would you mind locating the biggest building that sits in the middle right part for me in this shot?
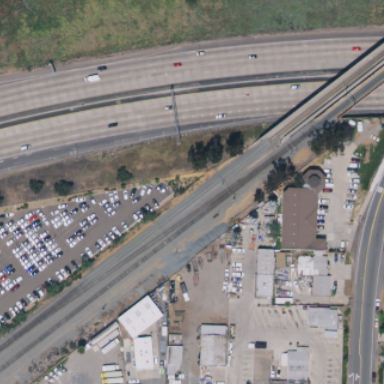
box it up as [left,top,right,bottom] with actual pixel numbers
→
[282,168,327,250]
